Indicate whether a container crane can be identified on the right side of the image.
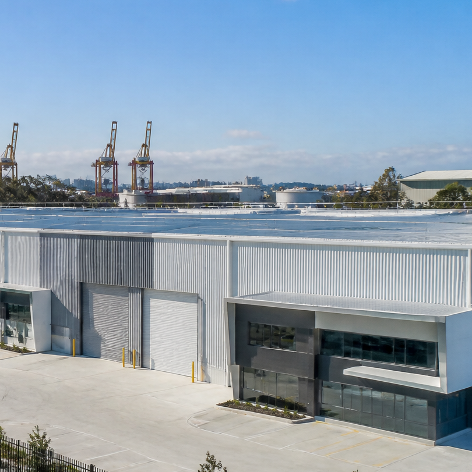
No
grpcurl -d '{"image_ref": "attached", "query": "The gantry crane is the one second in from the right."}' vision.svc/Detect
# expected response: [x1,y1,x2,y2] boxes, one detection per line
[85,122,122,194]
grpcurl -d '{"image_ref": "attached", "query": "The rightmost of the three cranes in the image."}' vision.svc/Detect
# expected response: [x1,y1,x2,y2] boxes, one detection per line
[122,121,158,189]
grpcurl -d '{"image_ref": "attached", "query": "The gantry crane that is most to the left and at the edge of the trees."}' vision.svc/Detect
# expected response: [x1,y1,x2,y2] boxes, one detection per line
[0,122,23,189]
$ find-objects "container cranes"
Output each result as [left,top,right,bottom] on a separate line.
[122,121,158,189]
[0,122,23,189]
[85,122,122,194]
